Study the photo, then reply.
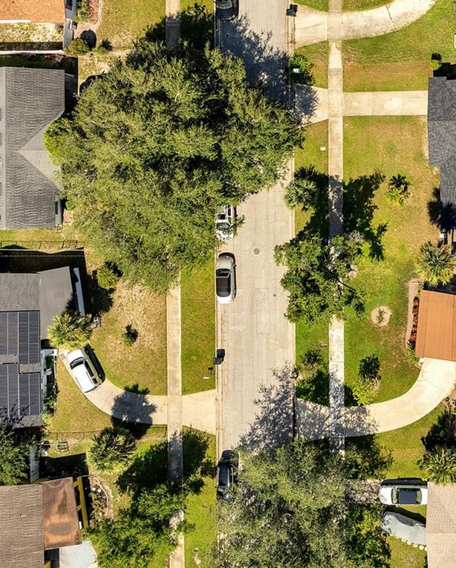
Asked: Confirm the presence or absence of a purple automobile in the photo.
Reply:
No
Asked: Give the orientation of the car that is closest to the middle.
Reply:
vertically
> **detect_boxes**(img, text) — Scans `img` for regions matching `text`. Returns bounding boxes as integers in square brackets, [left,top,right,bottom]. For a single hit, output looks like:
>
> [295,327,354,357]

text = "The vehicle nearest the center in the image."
[213,252,238,304]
